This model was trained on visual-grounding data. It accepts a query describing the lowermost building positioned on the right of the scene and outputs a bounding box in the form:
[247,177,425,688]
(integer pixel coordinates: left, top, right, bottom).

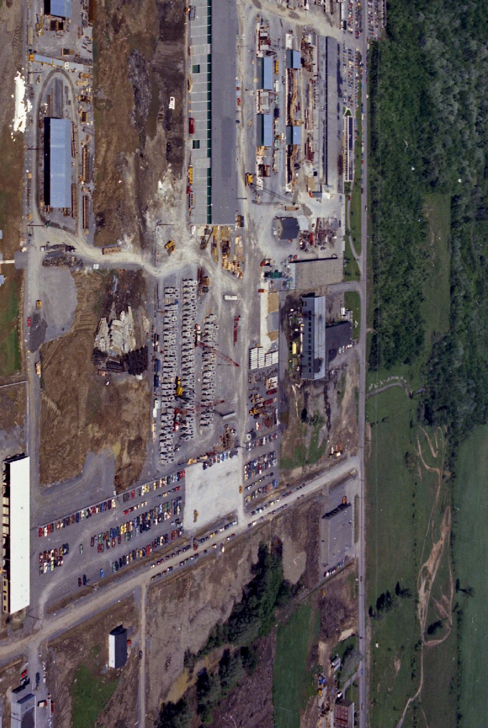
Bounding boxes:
[338,699,355,728]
